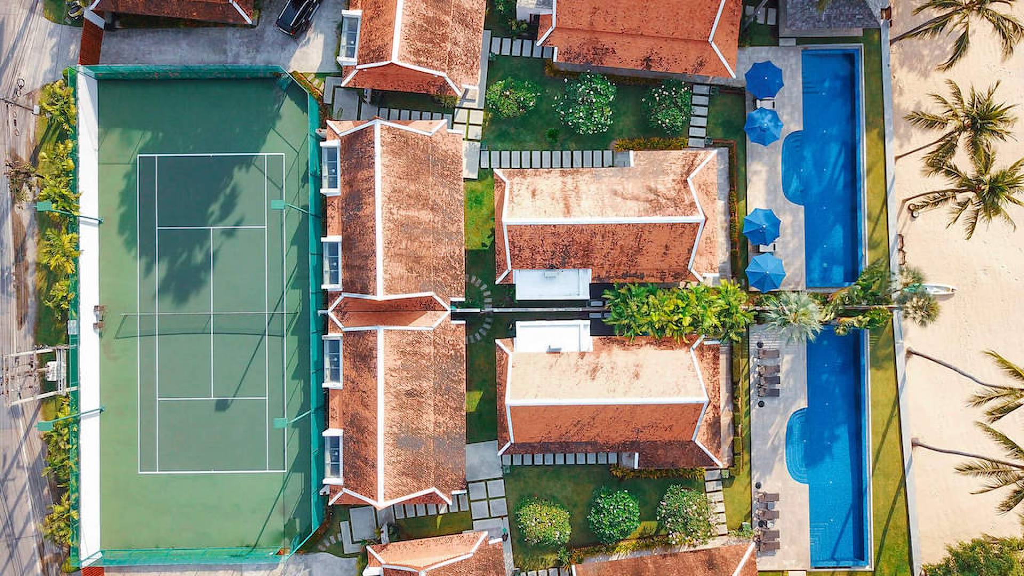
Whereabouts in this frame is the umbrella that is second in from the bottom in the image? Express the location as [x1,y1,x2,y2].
[743,209,779,244]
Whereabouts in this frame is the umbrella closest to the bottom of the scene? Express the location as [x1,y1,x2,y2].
[743,252,784,293]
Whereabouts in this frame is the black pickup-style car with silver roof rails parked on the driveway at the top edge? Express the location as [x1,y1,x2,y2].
[277,0,325,41]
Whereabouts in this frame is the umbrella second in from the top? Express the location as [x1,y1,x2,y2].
[742,108,782,147]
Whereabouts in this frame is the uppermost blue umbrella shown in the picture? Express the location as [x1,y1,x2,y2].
[744,63,782,100]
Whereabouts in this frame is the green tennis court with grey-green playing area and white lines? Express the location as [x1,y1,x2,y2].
[100,79,324,551]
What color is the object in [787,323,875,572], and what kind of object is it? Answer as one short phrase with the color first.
blue swimming pool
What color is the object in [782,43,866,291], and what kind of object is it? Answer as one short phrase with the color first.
blue swimming pool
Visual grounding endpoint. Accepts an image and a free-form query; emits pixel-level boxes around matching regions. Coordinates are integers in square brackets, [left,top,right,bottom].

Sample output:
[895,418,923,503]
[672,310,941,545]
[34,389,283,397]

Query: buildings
[571,539,760,576]
[494,320,725,470]
[517,0,742,79]
[323,310,468,507]
[779,0,883,38]
[363,530,505,576]
[493,148,718,300]
[339,0,484,98]
[321,118,466,311]
[86,0,257,26]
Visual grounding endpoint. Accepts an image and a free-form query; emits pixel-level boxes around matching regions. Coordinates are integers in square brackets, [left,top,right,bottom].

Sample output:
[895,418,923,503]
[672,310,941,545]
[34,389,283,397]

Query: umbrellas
[743,209,779,244]
[744,63,782,100]
[743,252,784,293]
[742,108,782,147]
